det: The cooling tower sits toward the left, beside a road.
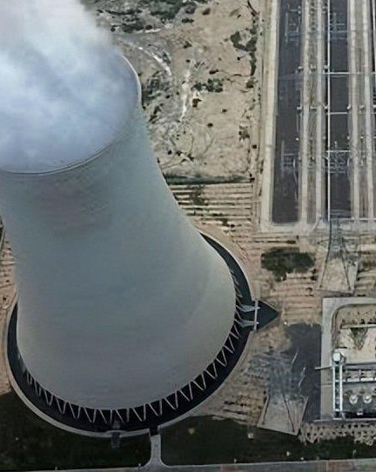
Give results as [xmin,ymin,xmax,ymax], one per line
[0,38,252,435]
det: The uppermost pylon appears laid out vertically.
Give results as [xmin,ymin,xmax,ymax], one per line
[318,214,356,291]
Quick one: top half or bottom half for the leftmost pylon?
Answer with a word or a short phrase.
bottom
